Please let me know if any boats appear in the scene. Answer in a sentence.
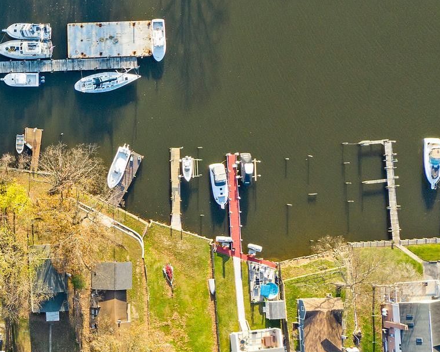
Yes, there is a boat in the image.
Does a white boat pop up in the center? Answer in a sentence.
Yes, a white boat is visible in the center.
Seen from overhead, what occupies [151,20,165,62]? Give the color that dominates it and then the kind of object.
white boat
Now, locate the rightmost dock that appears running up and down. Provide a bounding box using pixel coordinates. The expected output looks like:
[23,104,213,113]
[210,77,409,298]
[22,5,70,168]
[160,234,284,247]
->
[379,138,404,244]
